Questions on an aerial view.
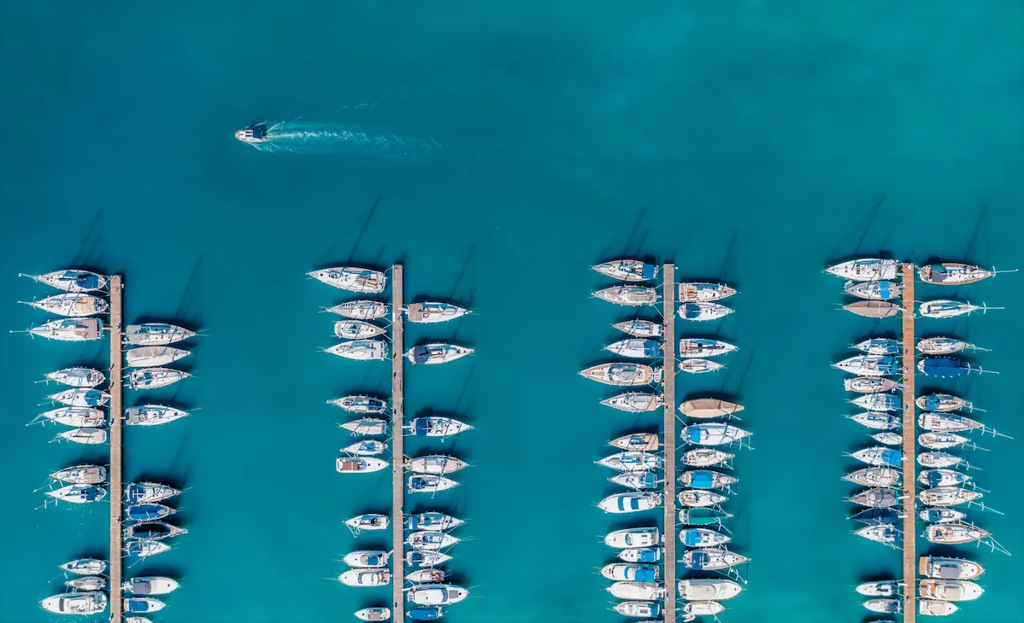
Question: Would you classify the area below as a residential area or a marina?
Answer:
marina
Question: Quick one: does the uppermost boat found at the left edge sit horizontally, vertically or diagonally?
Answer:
horizontally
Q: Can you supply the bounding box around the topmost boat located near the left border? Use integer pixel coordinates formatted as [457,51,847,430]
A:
[23,267,111,293]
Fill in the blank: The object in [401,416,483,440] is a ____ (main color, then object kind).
white boat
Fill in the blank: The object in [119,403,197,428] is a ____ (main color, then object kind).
white boat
